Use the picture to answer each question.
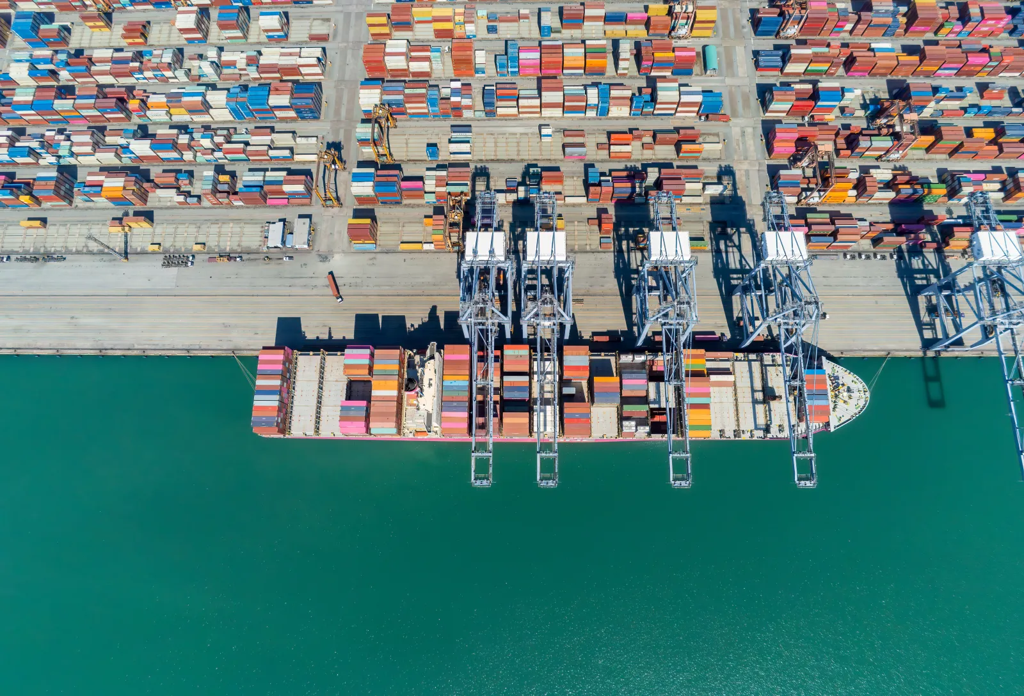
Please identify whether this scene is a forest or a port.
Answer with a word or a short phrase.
port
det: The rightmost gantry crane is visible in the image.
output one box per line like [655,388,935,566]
[912,184,1024,472]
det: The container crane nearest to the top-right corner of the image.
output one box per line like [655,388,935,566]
[883,97,932,162]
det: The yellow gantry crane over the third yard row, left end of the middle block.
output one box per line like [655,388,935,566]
[371,101,399,164]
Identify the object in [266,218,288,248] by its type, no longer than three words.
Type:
building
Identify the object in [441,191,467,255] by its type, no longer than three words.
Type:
container crane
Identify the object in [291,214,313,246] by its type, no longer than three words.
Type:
building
